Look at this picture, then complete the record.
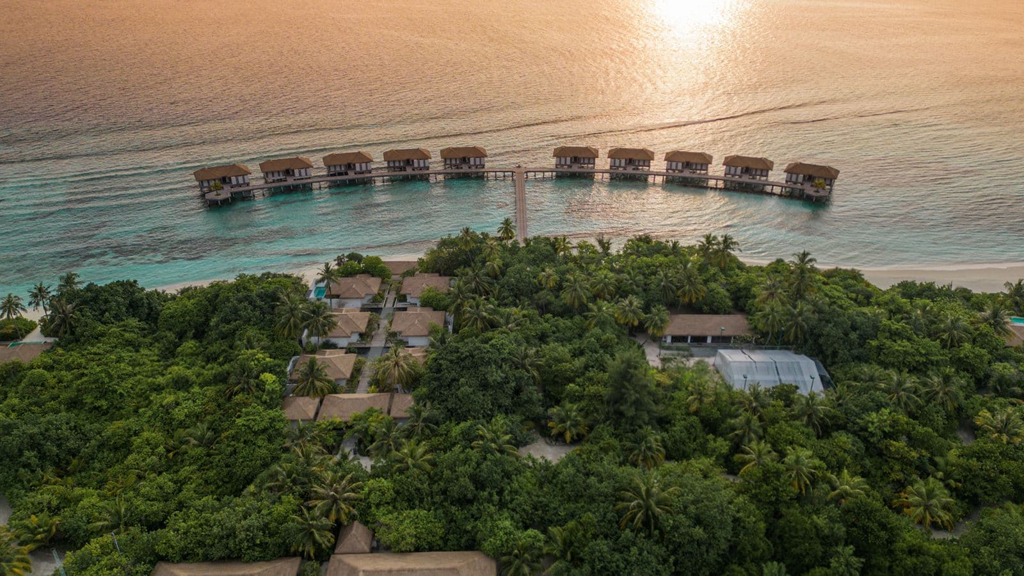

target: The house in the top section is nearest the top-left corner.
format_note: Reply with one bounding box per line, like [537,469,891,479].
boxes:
[197,165,250,195]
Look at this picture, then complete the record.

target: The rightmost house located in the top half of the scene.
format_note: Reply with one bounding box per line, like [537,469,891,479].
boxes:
[788,167,840,196]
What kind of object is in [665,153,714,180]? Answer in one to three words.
house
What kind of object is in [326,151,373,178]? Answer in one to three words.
house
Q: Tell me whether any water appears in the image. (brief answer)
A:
Yes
